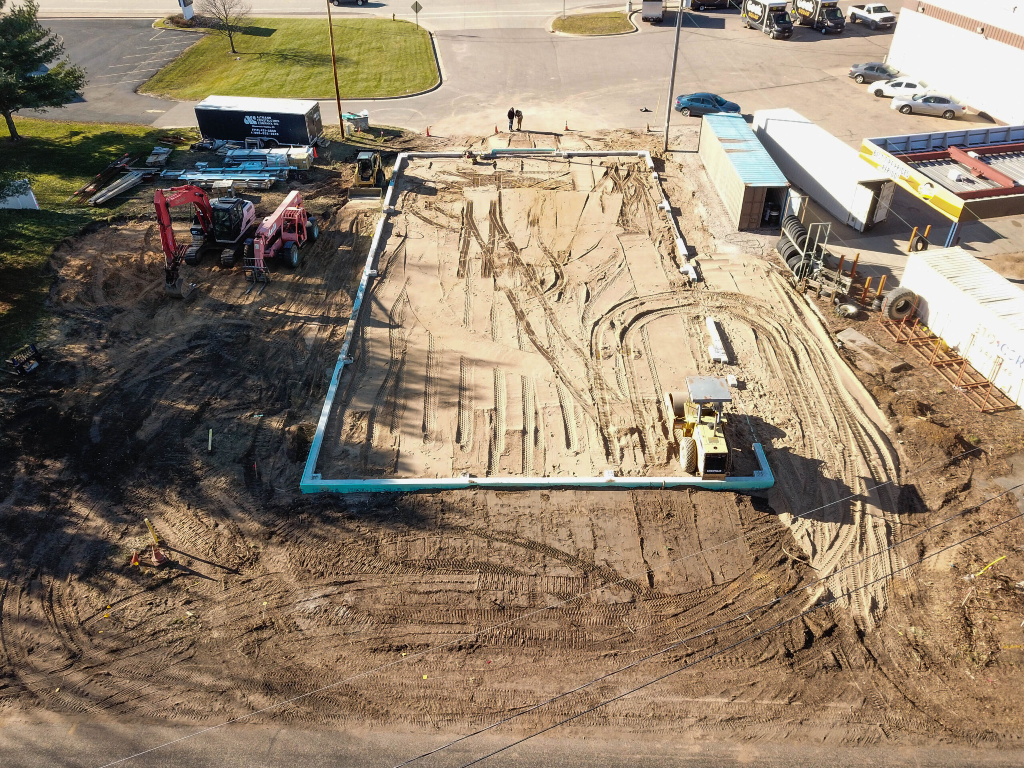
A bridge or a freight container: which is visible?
freight container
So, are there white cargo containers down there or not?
Yes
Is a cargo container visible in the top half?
Yes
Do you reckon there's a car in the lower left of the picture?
No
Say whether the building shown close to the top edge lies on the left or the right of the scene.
right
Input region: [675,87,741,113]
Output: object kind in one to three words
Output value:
car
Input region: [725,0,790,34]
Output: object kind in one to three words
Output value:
van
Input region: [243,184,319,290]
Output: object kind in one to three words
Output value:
work vehicle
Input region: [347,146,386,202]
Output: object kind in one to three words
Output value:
work vehicle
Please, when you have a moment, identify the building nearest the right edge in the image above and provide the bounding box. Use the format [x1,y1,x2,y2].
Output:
[887,0,1024,124]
